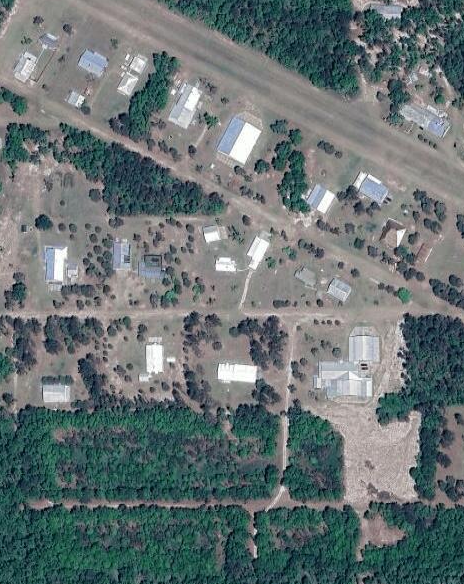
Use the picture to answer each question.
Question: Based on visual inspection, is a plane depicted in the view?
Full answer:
No, the picture doesn't show any plane.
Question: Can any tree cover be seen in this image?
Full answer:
Yes, tree cover can be seen from above here.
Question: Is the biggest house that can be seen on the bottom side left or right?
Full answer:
The biggest house that can be seen on the bottom side is on the right side of the image.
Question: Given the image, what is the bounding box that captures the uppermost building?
[370,3,402,19]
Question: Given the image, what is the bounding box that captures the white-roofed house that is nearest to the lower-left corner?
[42,384,69,402]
